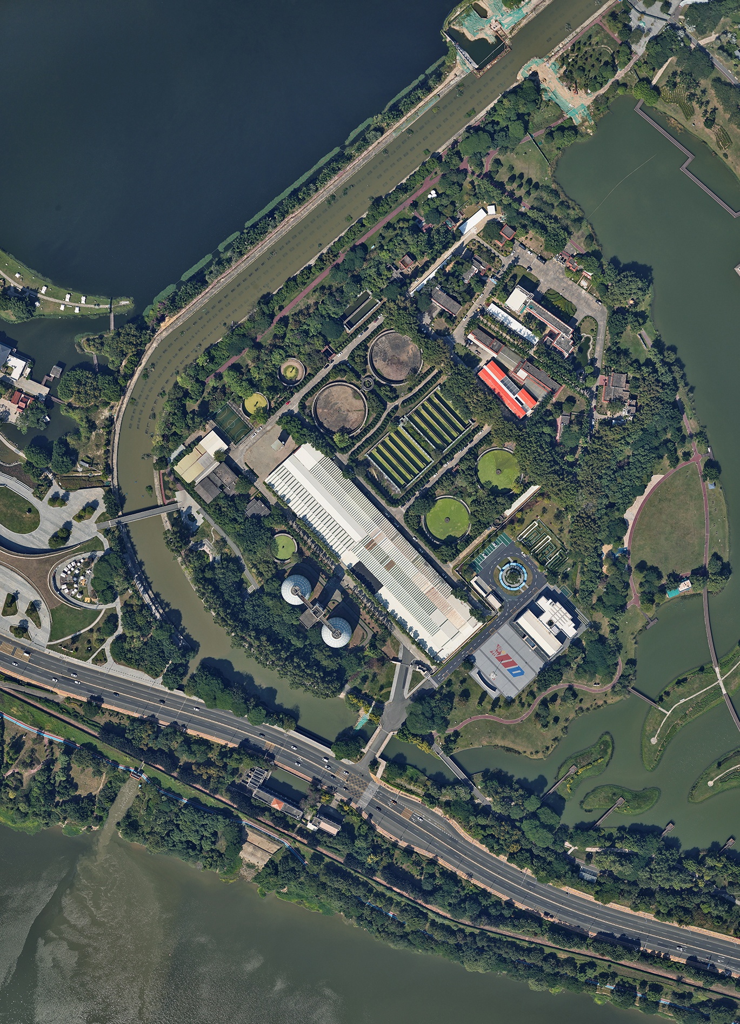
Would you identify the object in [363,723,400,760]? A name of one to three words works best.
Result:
bridge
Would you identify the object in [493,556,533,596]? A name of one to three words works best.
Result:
roundabout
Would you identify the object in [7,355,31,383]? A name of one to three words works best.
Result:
house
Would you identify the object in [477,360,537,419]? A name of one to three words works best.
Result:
building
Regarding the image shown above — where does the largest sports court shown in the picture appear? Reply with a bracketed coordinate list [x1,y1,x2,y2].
[210,402,253,448]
